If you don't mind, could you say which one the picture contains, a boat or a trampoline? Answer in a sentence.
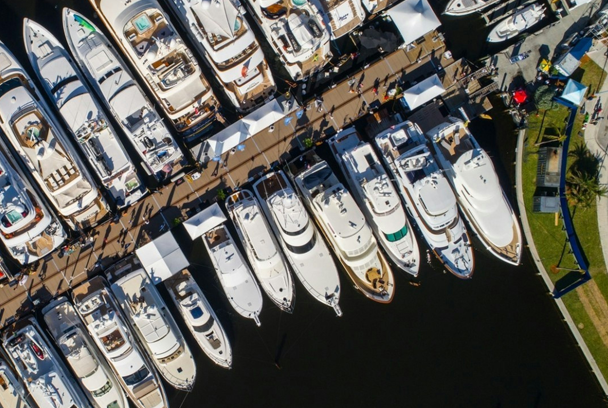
I can see a boat in this picture.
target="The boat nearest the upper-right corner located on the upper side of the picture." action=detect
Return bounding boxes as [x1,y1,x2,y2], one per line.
[484,0,556,43]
